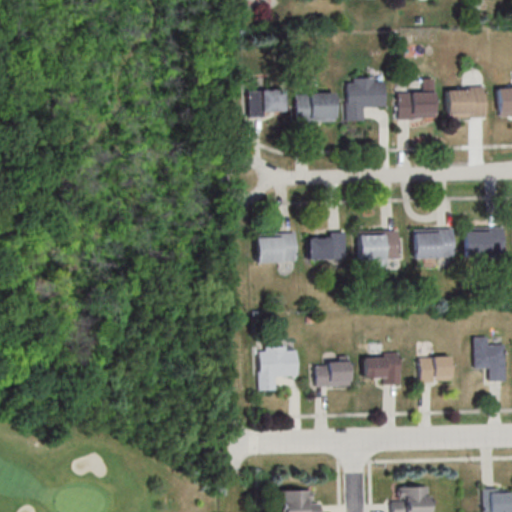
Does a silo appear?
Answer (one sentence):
No, no silo can be seen from above.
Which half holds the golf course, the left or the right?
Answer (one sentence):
It is on the left.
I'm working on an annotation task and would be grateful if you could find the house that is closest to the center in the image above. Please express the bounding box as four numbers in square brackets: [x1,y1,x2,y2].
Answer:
[259,232,299,264]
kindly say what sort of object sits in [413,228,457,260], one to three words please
house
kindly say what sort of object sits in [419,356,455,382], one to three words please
house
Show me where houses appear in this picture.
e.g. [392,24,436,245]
[473,337,506,380]
[390,487,438,512]
[449,87,490,120]
[466,227,506,258]
[413,228,457,260]
[500,88,512,120]
[310,232,346,260]
[419,356,455,382]
[482,489,512,512]
[397,79,440,120]
[346,76,388,121]
[315,356,355,388]
[282,491,322,512]
[258,346,300,391]
[259,232,299,264]
[296,94,340,124]
[248,90,288,116]
[358,231,402,266]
